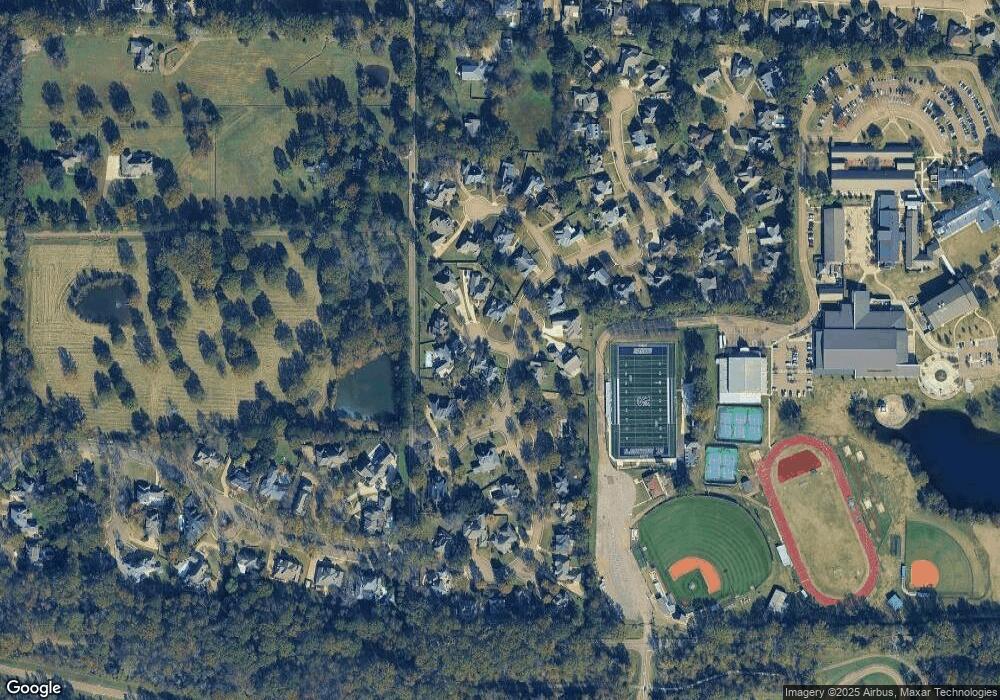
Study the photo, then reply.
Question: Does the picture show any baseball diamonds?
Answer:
Yes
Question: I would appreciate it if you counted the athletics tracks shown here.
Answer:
1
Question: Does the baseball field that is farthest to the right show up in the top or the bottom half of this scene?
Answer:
bottom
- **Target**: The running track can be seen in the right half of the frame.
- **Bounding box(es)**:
[761,435,878,605]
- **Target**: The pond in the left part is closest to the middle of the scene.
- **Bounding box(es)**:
[337,354,395,416]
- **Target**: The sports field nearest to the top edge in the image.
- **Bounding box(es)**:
[610,345,677,459]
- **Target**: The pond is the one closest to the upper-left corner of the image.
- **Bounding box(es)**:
[75,283,130,324]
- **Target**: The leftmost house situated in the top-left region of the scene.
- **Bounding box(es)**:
[57,150,79,175]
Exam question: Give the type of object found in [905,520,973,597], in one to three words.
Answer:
baseball field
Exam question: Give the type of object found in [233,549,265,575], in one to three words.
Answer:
house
